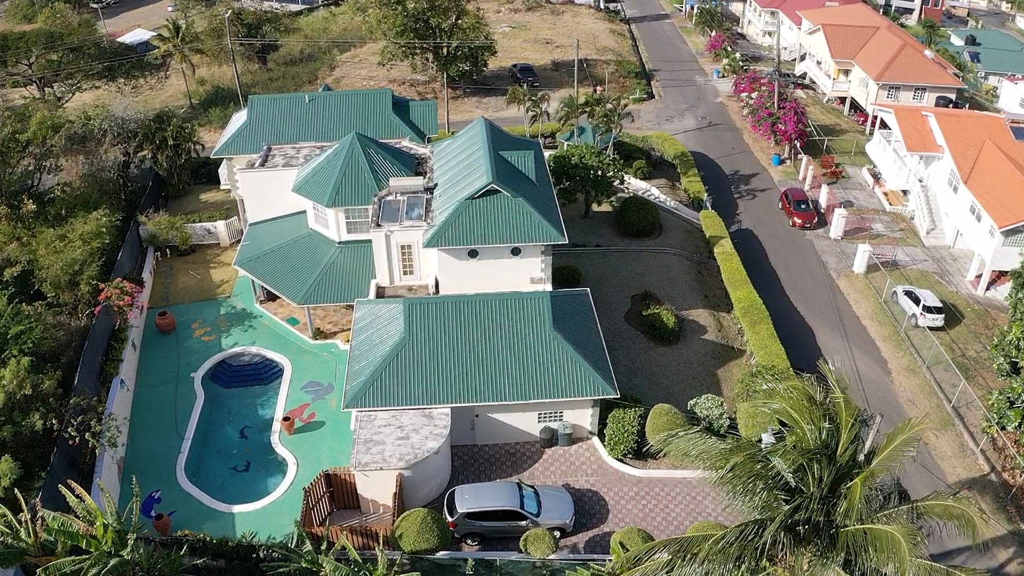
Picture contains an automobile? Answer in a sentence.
Yes, an automobile appears in the view.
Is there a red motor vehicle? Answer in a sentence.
Yes, a red motor vehicle appears in the view.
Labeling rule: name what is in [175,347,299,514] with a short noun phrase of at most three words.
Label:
swimming pool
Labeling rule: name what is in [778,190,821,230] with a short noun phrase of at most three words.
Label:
car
